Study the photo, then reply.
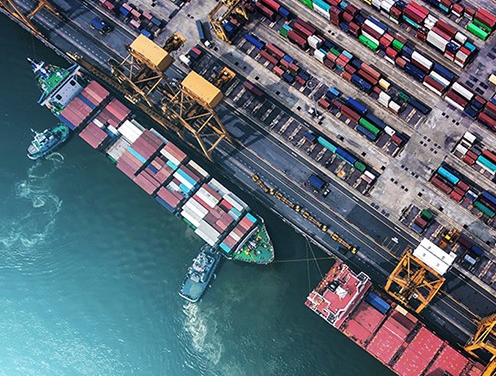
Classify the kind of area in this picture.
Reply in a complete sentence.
It's a port.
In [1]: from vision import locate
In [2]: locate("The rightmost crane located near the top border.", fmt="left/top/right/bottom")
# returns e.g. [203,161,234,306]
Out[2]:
[204,0,252,48]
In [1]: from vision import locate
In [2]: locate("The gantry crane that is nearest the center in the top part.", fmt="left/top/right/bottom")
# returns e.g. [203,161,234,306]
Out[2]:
[162,54,235,164]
